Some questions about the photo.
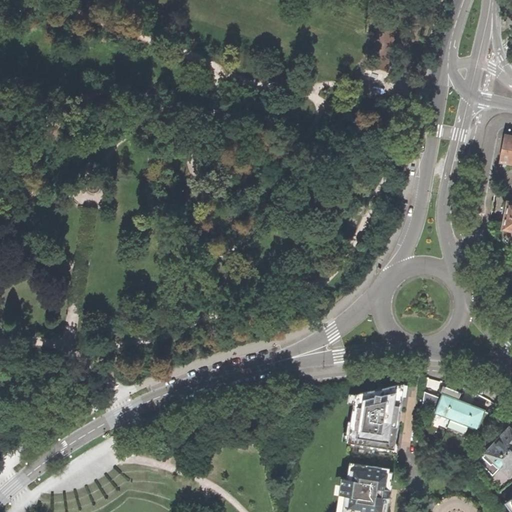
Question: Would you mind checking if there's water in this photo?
No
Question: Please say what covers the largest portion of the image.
trees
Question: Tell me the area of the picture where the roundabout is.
right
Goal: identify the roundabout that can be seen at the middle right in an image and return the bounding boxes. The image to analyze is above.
[376,260,470,354]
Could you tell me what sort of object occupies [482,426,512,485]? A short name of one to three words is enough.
house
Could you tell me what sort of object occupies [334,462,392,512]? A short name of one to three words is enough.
house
